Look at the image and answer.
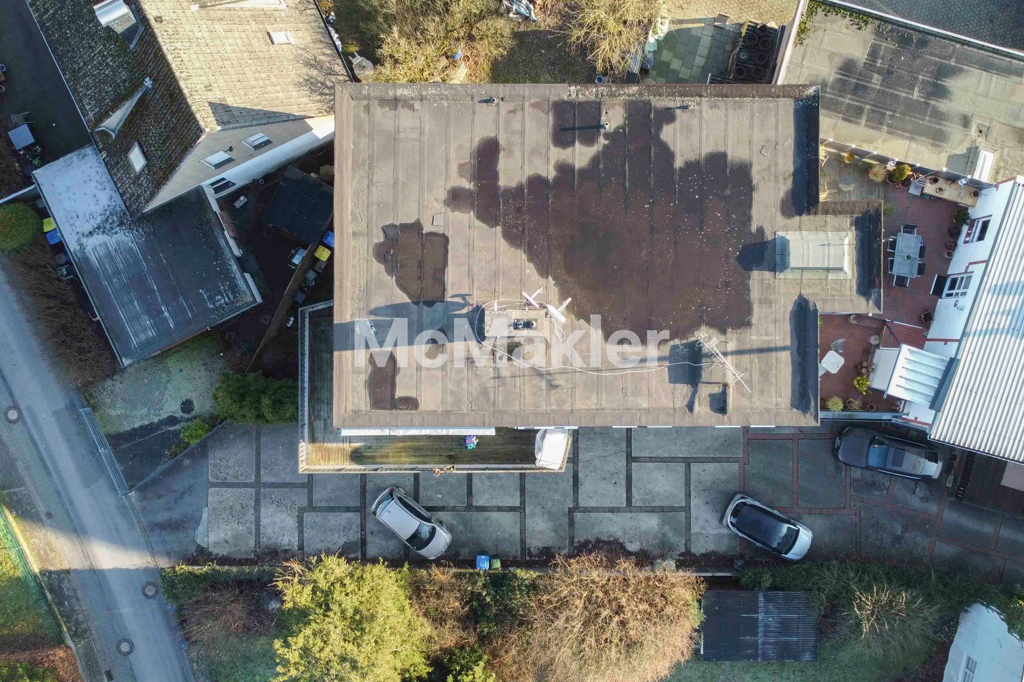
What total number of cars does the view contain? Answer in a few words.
3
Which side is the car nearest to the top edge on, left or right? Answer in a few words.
right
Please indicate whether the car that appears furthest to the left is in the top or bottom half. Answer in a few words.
bottom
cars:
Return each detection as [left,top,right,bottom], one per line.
[369,482,454,562]
[718,490,813,563]
[829,426,946,485]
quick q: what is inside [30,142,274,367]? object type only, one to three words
building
